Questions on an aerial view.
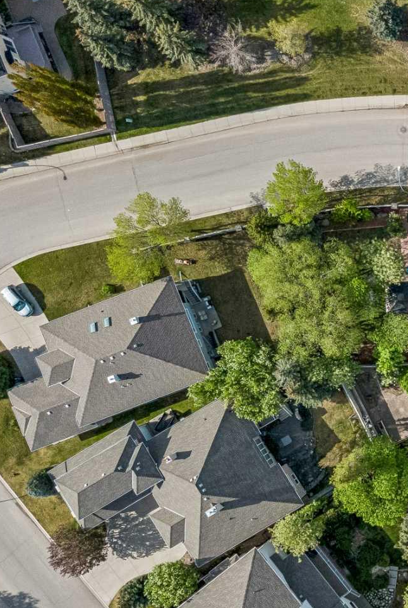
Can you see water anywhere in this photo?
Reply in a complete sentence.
No, the scene doesn't show any water.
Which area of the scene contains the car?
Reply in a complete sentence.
Look in the left portion of the view to spot the car.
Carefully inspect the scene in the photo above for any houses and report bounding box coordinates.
[46,401,311,569]
[0,0,31,108]
[7,276,209,452]
[178,535,364,608]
